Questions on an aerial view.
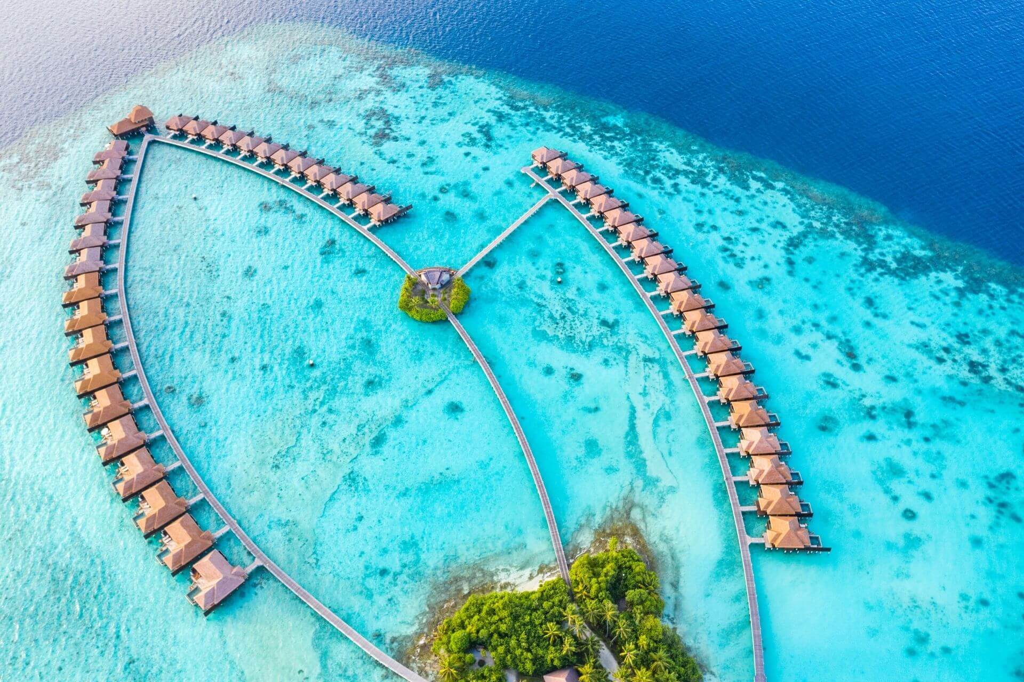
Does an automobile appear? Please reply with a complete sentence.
No, the picture doesn't show any automobile.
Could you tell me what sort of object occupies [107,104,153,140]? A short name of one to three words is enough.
building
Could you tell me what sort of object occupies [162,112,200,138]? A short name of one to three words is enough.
house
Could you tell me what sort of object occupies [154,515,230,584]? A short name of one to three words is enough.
house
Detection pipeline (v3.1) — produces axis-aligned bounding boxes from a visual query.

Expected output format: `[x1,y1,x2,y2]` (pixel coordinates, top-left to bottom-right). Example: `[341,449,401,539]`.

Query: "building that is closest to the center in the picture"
[415,265,456,291]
